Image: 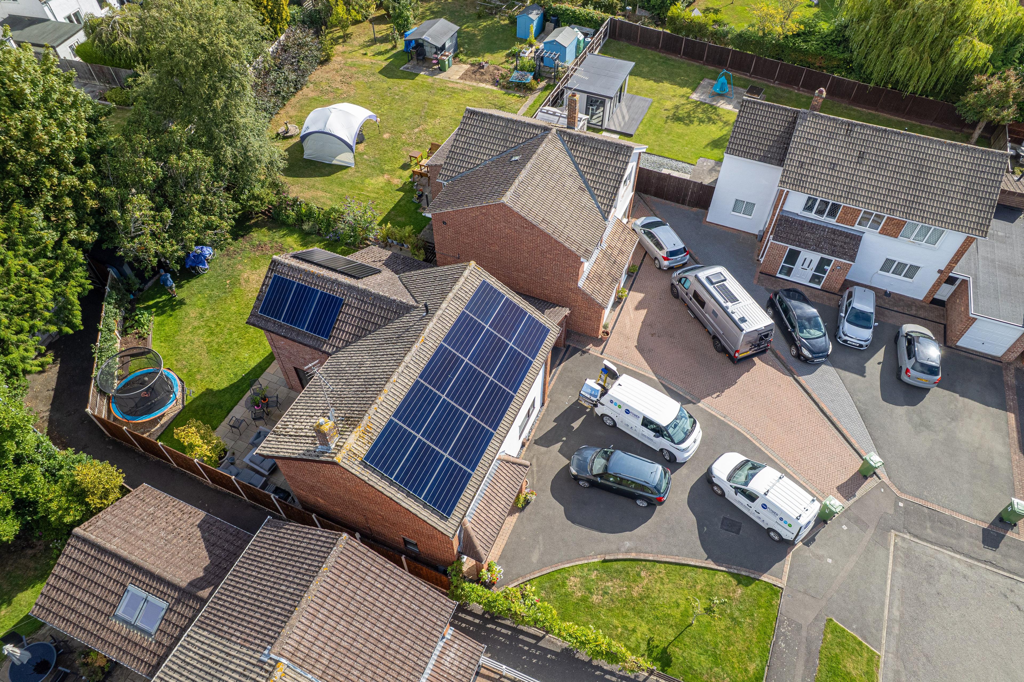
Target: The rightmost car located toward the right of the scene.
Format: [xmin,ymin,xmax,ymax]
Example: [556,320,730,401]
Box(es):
[896,324,945,395]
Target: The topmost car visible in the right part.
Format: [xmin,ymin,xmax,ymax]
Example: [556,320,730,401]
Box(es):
[636,215,693,272]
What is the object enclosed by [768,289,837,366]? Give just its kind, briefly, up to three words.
car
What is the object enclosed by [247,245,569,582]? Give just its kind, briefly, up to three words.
house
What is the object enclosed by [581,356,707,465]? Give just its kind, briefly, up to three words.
van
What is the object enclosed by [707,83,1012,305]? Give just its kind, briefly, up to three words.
house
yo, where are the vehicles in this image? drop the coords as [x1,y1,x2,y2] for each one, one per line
[568,443,671,507]
[896,324,945,395]
[836,286,882,351]
[768,289,837,366]
[670,262,780,362]
[707,453,827,550]
[581,356,707,465]
[636,215,693,272]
